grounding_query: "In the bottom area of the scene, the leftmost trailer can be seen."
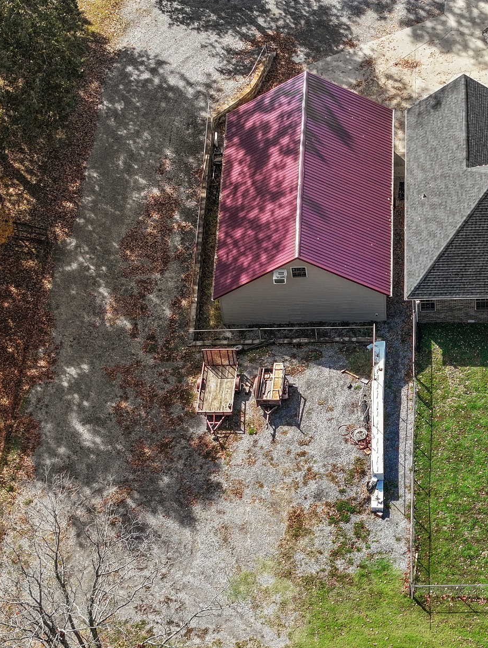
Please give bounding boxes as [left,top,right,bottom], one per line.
[195,346,243,443]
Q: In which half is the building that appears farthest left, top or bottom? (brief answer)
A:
top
